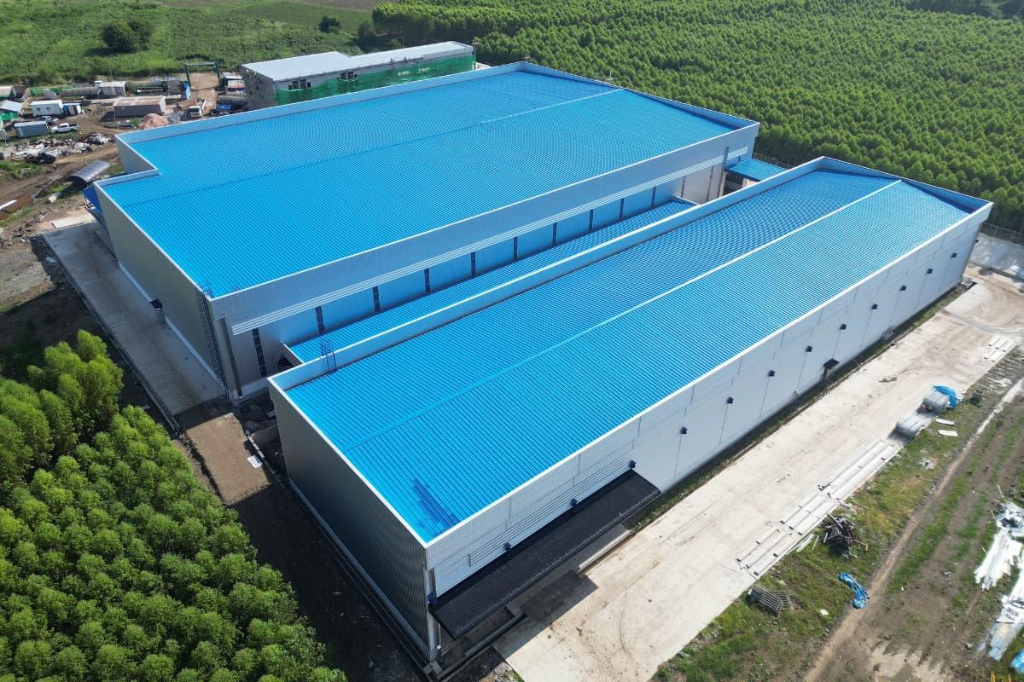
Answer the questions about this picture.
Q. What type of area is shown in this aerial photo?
industrial area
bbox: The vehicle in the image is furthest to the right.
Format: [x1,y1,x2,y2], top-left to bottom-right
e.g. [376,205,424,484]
[189,102,204,115]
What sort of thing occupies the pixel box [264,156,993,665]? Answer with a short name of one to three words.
warehouse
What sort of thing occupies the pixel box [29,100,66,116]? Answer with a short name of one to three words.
building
